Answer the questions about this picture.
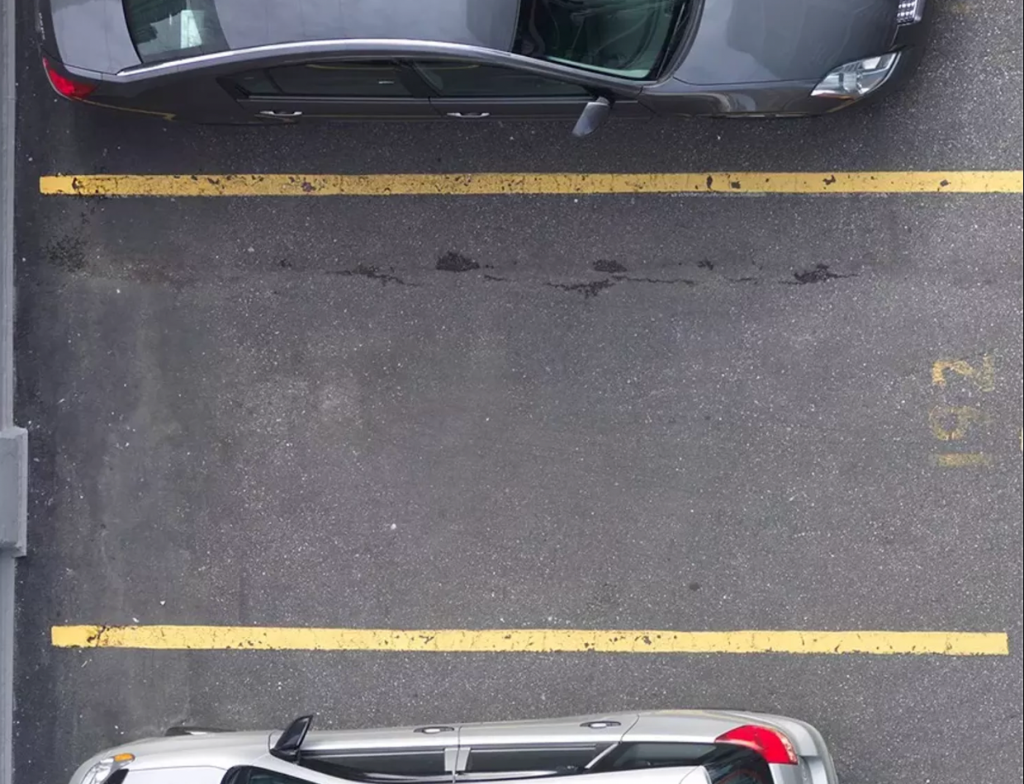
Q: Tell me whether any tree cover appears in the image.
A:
No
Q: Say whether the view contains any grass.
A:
No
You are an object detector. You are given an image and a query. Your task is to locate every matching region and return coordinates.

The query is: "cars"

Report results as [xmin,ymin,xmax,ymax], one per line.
[35,0,930,135]
[65,709,836,784]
